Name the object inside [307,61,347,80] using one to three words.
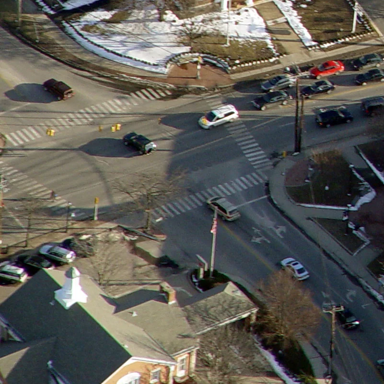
car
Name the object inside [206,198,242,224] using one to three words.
car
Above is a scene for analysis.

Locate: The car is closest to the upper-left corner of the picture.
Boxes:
[40,80,77,102]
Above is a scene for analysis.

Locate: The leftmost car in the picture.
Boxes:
[0,260,32,284]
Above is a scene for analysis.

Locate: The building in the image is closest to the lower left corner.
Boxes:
[0,261,297,384]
